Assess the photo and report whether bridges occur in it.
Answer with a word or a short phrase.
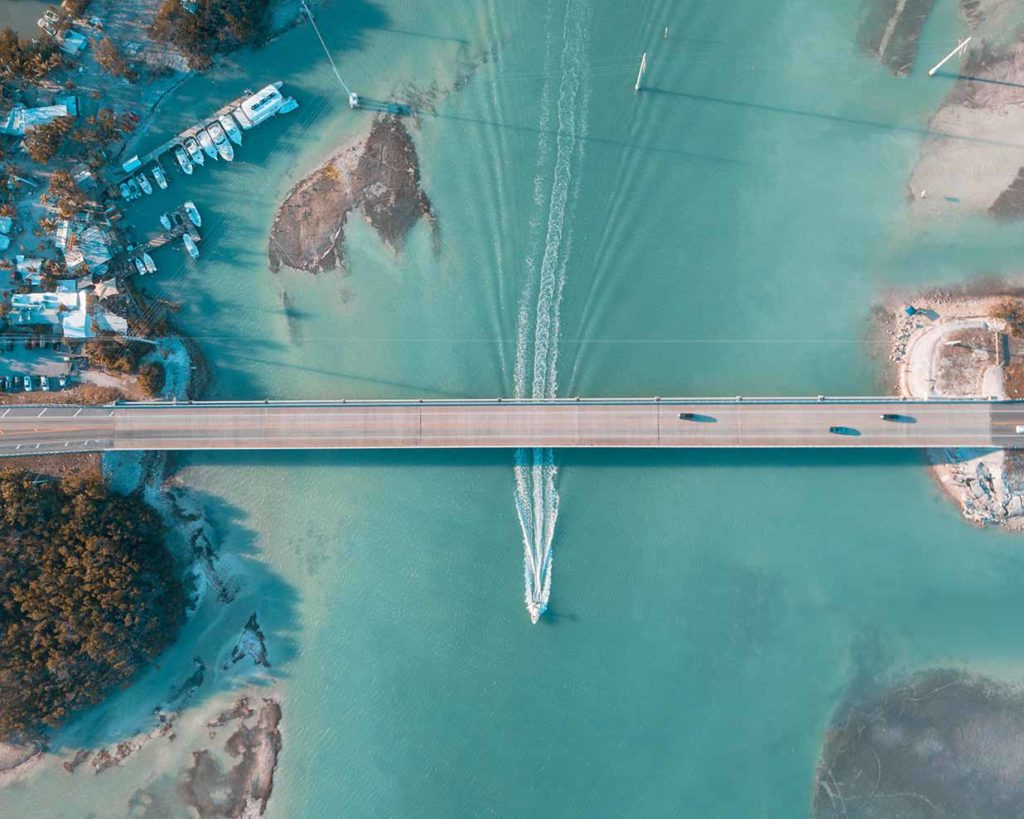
Yes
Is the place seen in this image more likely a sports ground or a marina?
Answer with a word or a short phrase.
marina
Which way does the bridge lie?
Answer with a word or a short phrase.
from side to side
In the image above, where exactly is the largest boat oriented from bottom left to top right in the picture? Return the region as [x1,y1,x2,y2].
[232,89,285,133]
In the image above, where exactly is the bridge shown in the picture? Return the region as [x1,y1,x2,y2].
[103,399,1004,451]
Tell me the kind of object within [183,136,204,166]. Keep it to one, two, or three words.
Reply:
boat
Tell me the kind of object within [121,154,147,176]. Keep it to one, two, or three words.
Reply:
shed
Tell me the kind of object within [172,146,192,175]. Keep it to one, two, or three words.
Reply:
boat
